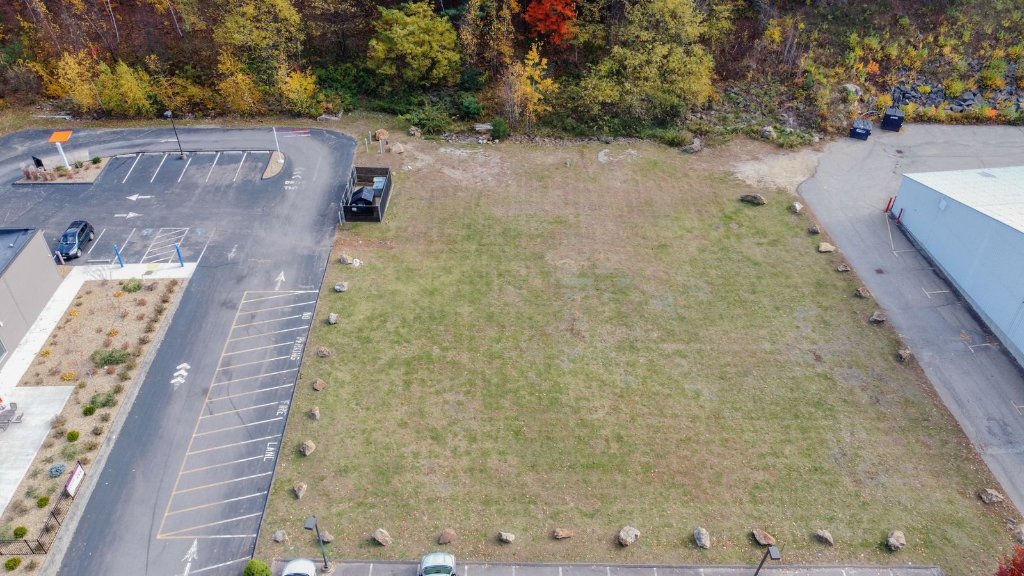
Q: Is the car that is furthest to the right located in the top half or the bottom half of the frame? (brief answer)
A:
bottom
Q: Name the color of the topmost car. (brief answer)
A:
blue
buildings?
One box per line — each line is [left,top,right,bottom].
[884,169,1024,372]
[0,225,63,367]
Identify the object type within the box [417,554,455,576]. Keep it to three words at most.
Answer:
car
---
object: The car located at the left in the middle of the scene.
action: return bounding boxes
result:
[56,220,95,259]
